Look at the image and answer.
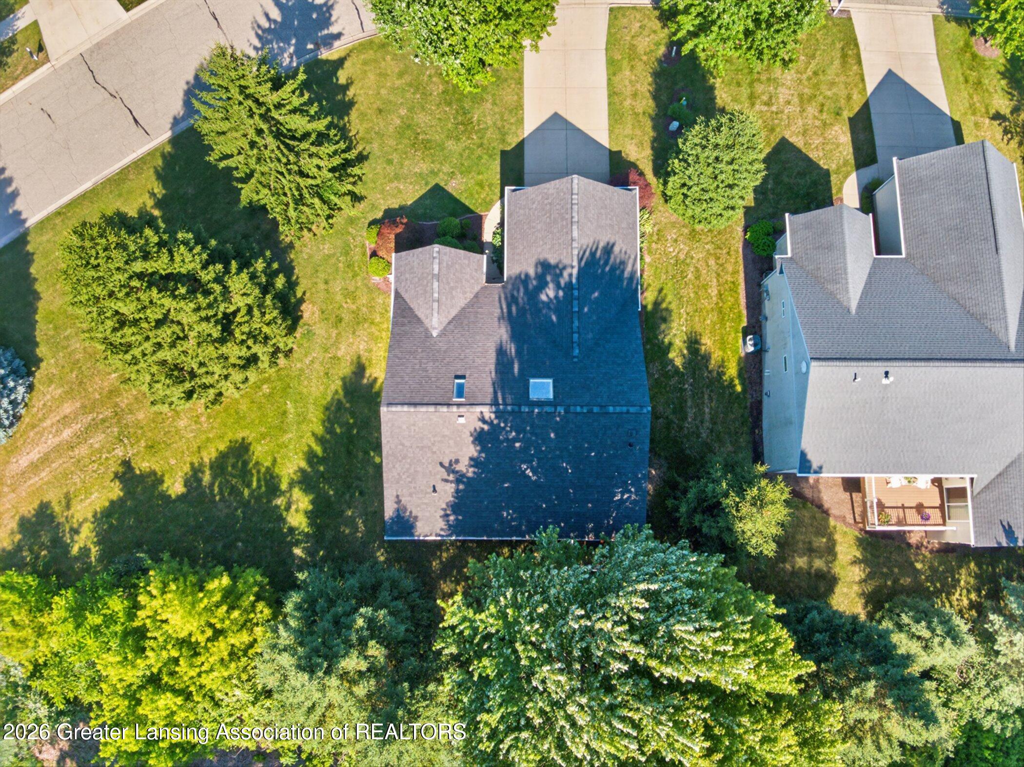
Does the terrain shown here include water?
No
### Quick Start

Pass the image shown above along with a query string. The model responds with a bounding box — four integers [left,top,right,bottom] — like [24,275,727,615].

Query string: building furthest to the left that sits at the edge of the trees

[379,174,653,542]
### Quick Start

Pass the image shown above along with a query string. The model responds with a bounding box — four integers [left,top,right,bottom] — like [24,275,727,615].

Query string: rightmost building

[757,137,1024,549]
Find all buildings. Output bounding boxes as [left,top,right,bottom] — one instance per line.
[757,137,1024,549]
[379,174,653,542]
